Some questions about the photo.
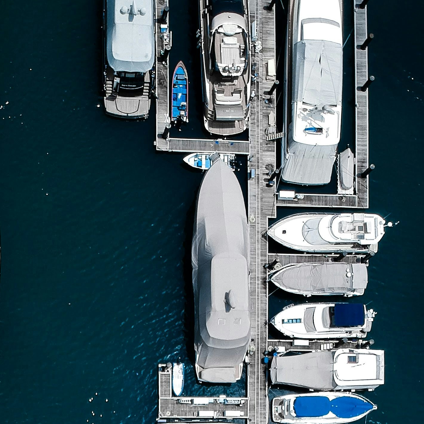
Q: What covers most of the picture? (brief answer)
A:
water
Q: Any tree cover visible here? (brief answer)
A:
No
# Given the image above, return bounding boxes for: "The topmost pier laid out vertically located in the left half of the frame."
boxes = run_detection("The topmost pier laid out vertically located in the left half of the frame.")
[155,0,169,152]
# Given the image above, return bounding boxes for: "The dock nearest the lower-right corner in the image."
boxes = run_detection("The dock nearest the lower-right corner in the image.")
[268,340,369,359]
